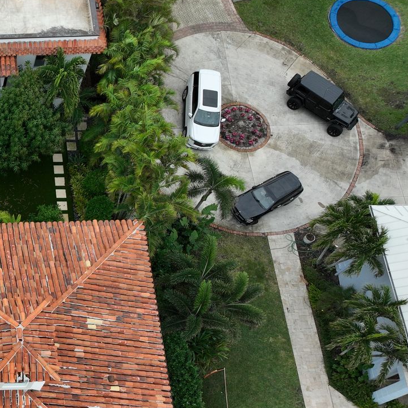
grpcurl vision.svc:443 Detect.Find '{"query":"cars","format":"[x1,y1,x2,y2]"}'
[281,70,361,138]
[228,164,314,231]
[183,63,228,152]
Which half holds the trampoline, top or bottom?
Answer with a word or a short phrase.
top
